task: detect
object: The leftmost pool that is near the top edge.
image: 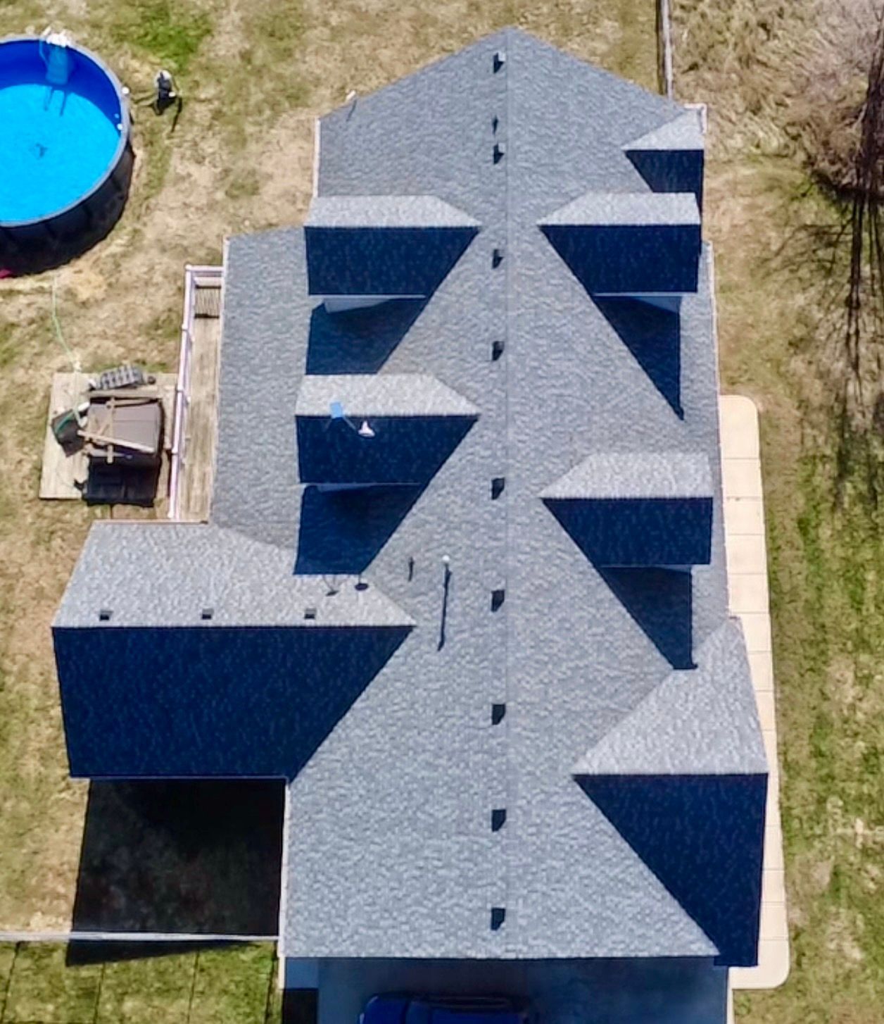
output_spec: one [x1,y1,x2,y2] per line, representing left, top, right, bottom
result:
[0,38,134,236]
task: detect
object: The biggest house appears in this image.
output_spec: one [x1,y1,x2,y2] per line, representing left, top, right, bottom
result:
[54,26,768,968]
